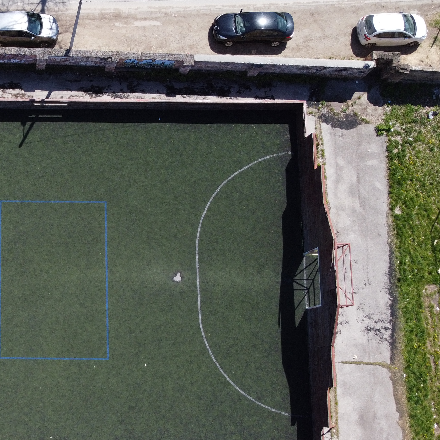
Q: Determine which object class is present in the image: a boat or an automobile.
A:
automobile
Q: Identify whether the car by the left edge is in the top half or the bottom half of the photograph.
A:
top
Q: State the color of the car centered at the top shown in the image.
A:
black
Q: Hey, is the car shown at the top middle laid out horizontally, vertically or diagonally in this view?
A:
horizontally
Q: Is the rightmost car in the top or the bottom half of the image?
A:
top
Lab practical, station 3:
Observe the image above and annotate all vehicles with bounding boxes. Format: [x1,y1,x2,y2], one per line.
[0,9,56,48]
[355,8,426,47]
[212,7,295,47]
